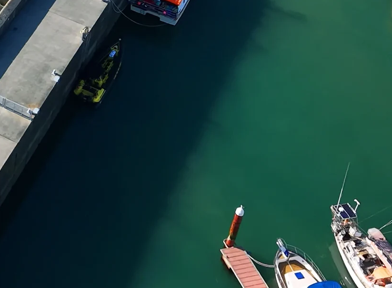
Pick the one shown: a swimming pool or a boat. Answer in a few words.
boat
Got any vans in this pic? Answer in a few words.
No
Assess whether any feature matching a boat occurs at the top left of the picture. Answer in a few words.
Yes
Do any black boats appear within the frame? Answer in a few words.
Yes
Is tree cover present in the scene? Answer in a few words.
No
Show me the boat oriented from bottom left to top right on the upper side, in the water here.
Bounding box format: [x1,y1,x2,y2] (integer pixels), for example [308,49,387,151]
[70,36,126,110]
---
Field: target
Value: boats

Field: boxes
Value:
[129,0,187,35]
[70,36,126,110]
[279,246,340,288]
[326,179,392,288]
